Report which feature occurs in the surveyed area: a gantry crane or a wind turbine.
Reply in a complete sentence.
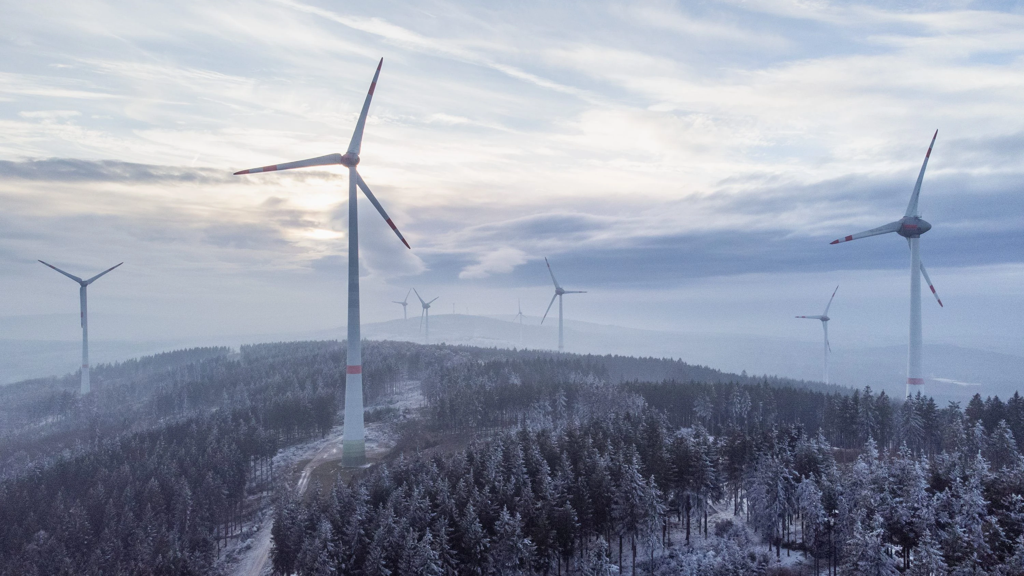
The one in the frame is a wind turbine.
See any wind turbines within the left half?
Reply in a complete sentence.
Yes, a wind turbine shows up within the left half.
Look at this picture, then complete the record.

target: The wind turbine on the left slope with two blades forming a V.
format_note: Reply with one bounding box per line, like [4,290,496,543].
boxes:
[39,261,123,401]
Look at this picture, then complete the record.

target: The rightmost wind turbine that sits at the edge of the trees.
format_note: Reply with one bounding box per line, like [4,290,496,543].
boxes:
[829,132,943,452]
